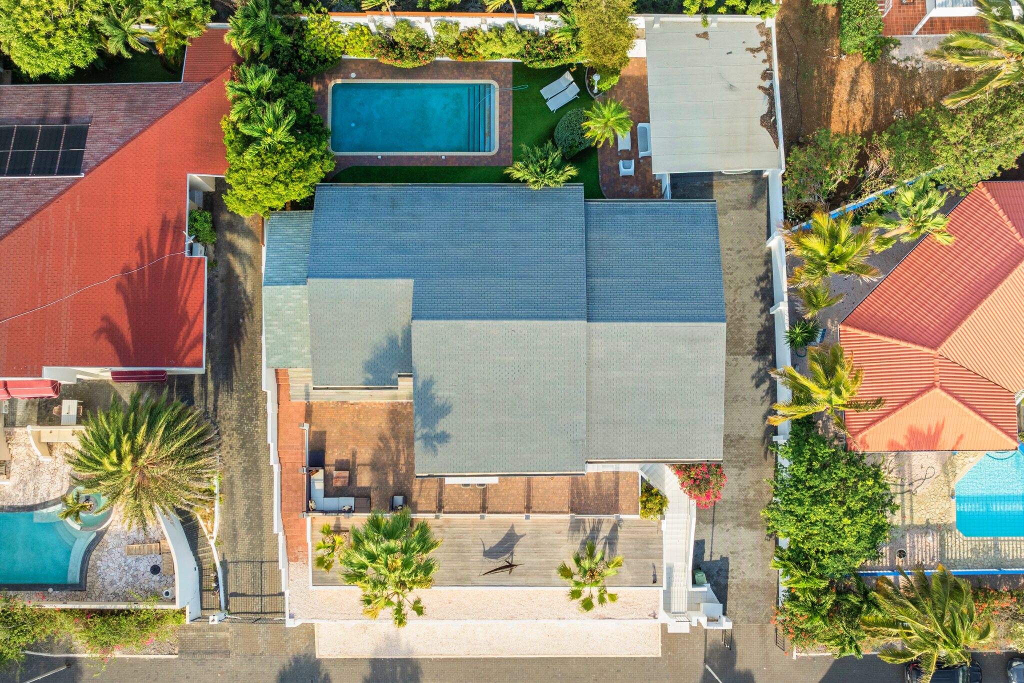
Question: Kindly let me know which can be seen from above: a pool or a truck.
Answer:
pool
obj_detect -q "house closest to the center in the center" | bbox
[262,181,726,479]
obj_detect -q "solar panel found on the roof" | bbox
[0,123,91,176]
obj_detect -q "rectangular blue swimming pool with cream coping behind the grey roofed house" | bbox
[328,78,499,154]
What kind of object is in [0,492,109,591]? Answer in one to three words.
swimming pool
